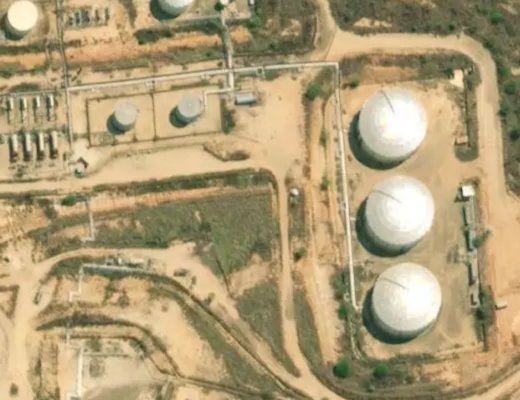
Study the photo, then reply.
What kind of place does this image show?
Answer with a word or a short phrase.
industrial area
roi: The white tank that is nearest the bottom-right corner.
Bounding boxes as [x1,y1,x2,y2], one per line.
[367,262,442,337]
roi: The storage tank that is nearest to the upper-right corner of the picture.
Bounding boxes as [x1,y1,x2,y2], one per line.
[354,89,428,165]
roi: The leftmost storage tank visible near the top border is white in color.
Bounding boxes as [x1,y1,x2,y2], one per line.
[5,0,38,37]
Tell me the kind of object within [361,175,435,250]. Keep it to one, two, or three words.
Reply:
storage tank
